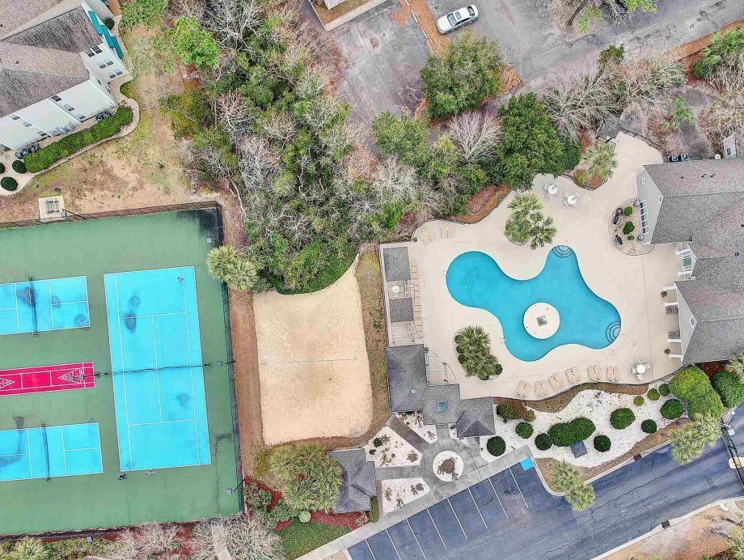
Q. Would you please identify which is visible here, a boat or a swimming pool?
swimming pool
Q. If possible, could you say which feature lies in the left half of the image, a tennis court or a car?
tennis court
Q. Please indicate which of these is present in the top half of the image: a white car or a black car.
white car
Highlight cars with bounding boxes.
[437,1,479,32]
